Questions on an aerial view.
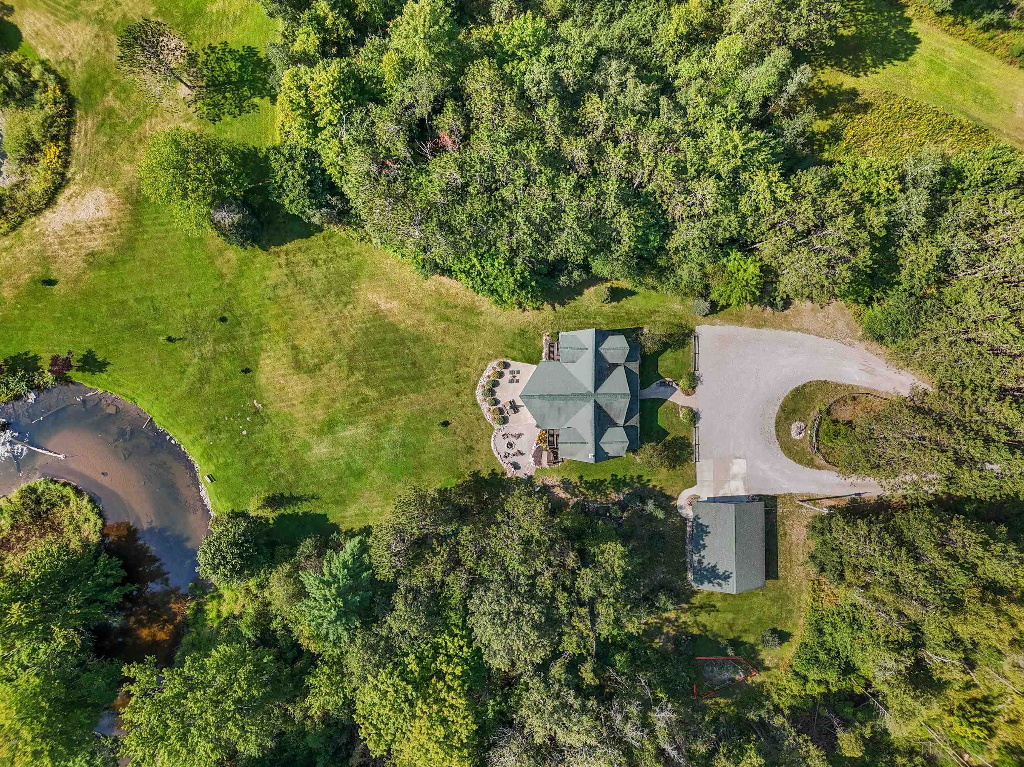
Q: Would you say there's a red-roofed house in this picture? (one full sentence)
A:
No, there's no red-roofed house here.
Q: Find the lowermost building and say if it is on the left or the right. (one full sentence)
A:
The lowermost building is on the right side of the image.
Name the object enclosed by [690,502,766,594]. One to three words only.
building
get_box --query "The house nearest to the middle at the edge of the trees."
[520,328,640,463]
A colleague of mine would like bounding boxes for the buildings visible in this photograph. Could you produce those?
[690,502,766,594]
[520,328,640,463]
